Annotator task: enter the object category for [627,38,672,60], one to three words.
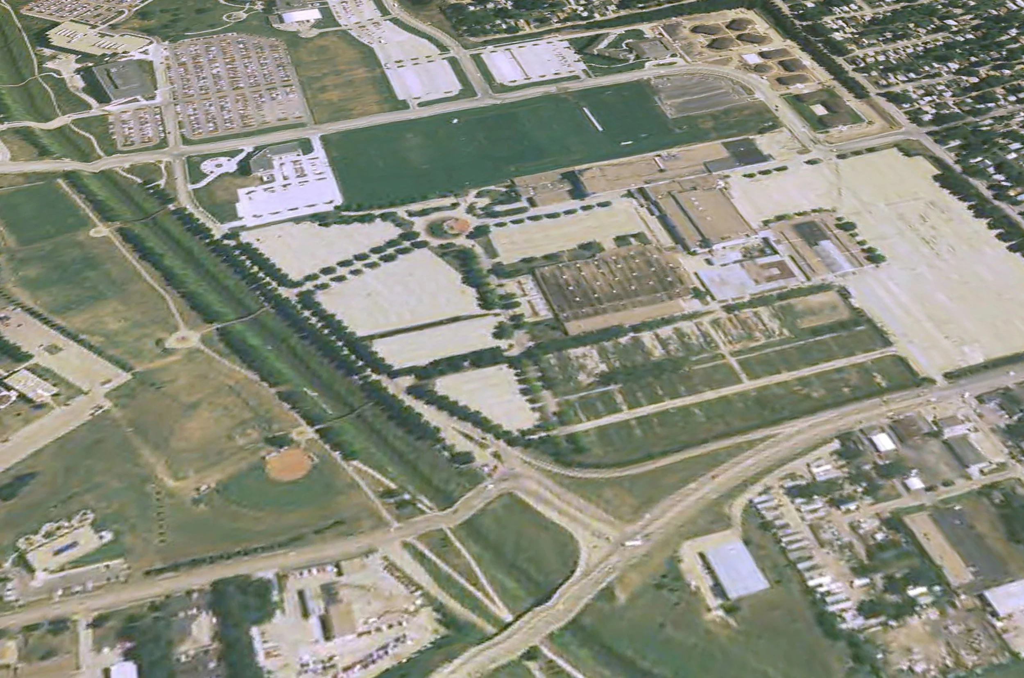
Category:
shed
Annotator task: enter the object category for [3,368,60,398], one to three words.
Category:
building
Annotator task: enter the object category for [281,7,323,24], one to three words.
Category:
hangar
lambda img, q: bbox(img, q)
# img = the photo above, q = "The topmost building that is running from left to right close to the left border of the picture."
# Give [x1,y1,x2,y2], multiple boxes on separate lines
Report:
[45,19,151,57]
